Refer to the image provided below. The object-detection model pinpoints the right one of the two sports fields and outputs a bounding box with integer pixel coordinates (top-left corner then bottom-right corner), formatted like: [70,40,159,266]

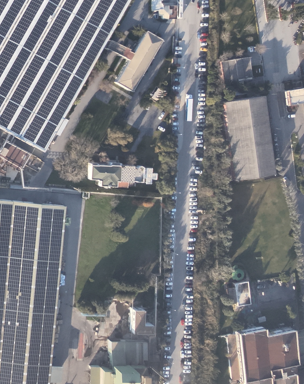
[232,177,302,281]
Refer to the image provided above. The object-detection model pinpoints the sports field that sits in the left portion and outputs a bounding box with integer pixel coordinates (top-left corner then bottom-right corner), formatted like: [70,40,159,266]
[78,197,161,299]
